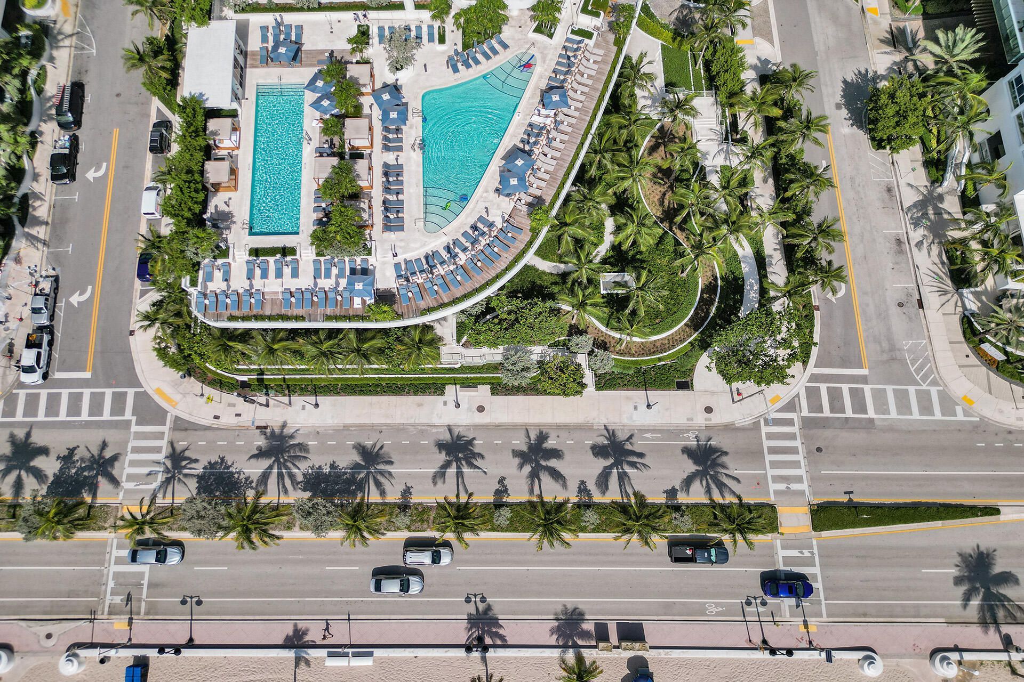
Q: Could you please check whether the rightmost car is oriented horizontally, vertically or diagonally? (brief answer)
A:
horizontally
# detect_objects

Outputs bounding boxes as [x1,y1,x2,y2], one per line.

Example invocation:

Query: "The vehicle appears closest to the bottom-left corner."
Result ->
[128,542,185,569]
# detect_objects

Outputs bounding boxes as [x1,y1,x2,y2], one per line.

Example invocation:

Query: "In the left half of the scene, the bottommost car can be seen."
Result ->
[371,572,424,598]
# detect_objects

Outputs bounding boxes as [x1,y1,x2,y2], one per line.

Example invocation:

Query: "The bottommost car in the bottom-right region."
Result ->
[761,576,811,601]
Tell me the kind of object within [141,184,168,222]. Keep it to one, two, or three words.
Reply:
car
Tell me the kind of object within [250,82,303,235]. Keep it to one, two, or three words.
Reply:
swimming pool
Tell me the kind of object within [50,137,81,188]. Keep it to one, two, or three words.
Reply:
truck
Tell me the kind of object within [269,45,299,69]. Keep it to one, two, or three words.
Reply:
umbrella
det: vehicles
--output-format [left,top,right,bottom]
[50,137,81,188]
[52,82,84,132]
[141,184,168,222]
[761,576,811,601]
[371,572,424,598]
[23,328,57,385]
[150,122,172,157]
[128,542,185,569]
[404,542,453,569]
[666,541,727,568]
[135,251,157,287]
